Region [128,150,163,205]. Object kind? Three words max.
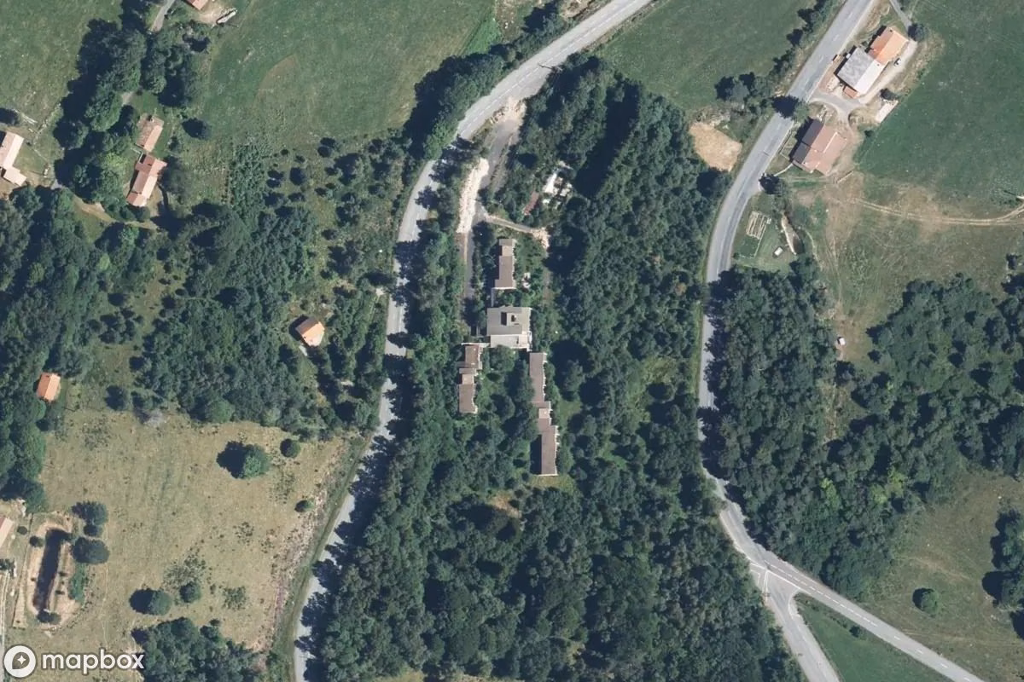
house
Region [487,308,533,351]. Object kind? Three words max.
building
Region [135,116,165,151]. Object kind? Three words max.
barn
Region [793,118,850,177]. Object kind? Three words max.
barn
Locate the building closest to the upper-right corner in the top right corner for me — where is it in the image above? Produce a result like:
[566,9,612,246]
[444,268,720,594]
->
[870,26,908,66]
